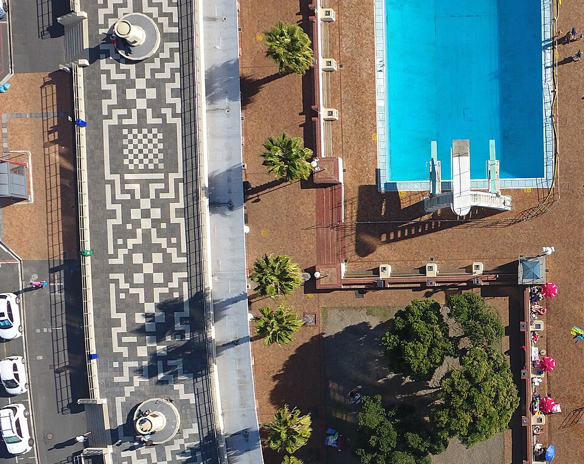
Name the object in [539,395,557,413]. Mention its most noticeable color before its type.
pink umbrella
